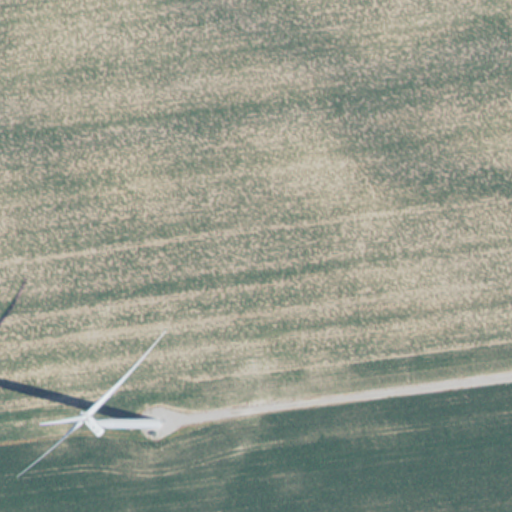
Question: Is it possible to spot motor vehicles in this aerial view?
No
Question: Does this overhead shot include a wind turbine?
Yes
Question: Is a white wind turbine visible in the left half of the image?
Yes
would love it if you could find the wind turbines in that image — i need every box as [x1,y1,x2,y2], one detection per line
[18,330,165,477]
